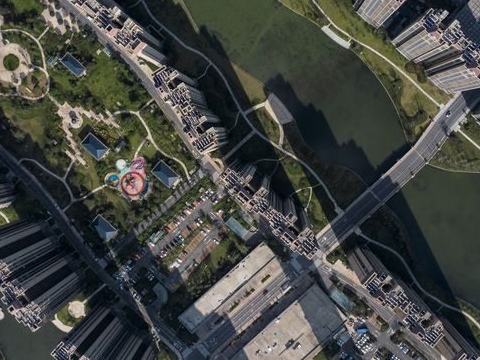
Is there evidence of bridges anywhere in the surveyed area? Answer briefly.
Yes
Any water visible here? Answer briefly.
Yes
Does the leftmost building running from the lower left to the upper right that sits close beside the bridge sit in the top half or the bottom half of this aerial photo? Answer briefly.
bottom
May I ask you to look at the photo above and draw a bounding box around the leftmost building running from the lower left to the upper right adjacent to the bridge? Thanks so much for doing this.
[177,240,278,333]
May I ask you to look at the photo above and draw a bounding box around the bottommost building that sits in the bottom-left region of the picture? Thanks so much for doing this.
[51,298,163,360]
